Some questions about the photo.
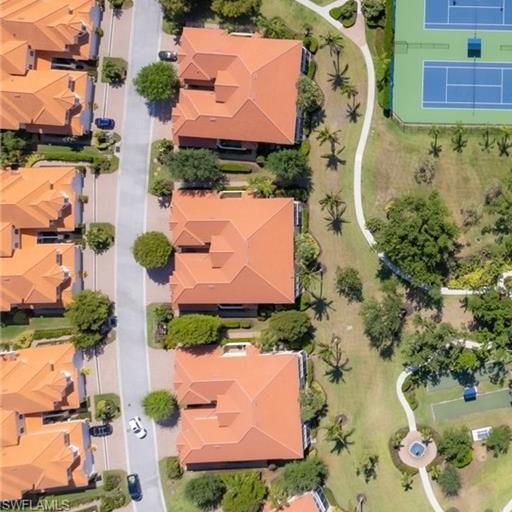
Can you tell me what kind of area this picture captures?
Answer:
residential area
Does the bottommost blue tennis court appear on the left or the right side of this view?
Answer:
right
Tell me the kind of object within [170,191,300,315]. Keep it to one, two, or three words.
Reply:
house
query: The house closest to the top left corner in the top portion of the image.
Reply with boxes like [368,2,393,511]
[0,0,104,134]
